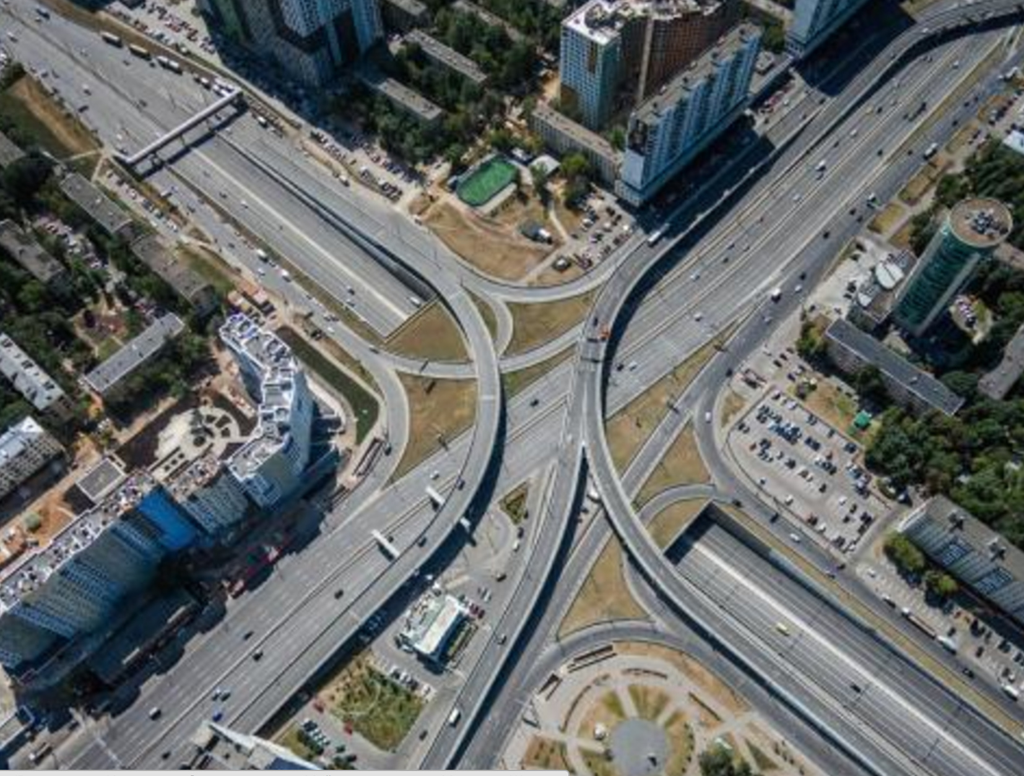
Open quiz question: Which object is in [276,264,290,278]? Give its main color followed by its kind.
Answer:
white vehicle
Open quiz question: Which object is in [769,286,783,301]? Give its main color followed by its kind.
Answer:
white vehicle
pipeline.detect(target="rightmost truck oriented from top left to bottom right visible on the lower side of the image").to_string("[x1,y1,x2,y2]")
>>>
[1001,684,1024,706]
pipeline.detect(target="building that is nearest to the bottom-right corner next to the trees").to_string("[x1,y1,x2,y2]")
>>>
[904,495,1024,615]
